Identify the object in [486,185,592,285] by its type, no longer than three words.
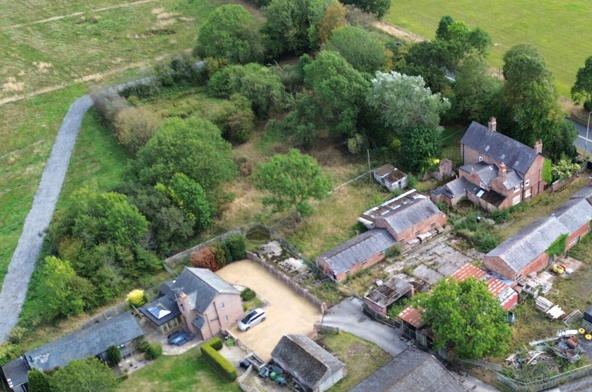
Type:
shed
